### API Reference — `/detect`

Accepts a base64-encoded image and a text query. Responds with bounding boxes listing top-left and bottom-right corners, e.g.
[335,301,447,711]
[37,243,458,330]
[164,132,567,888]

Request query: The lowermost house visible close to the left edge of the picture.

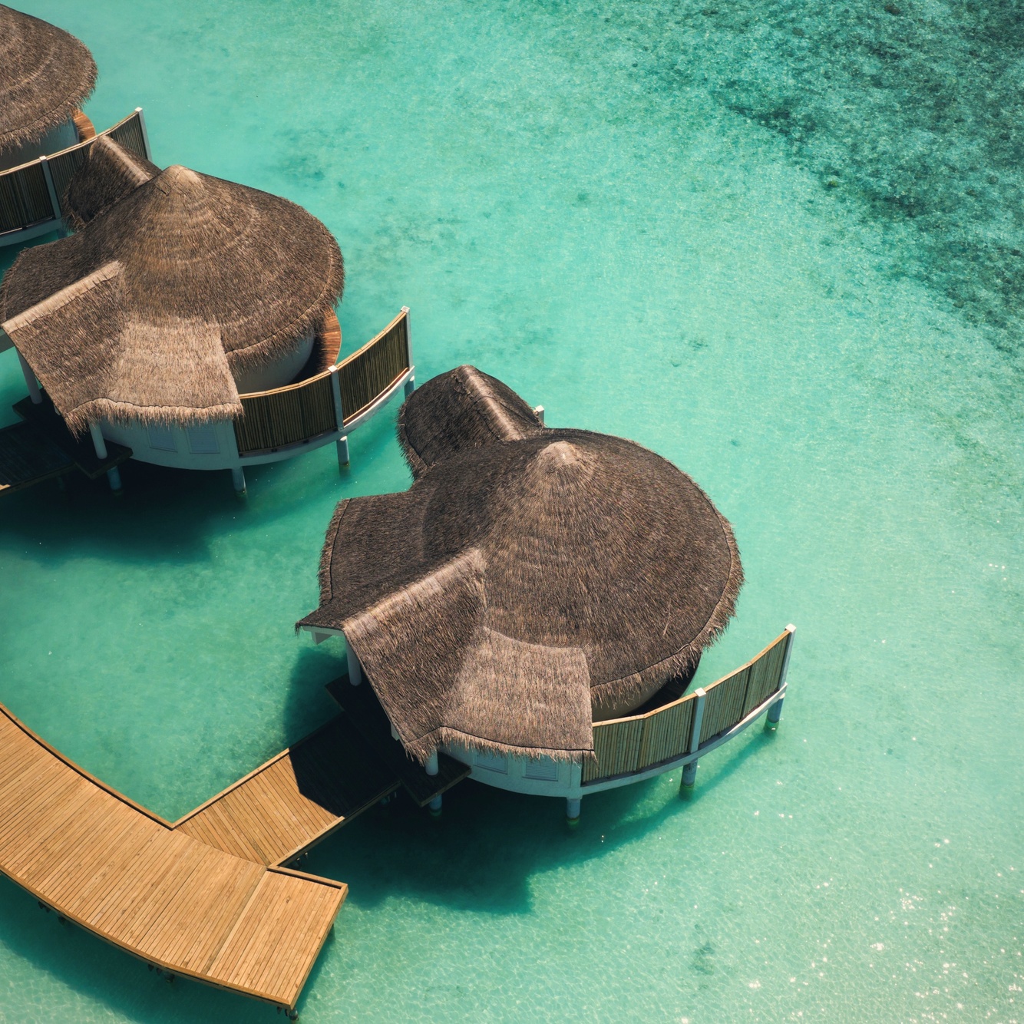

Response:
[0,136,357,519]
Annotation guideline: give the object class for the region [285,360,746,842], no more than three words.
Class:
house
